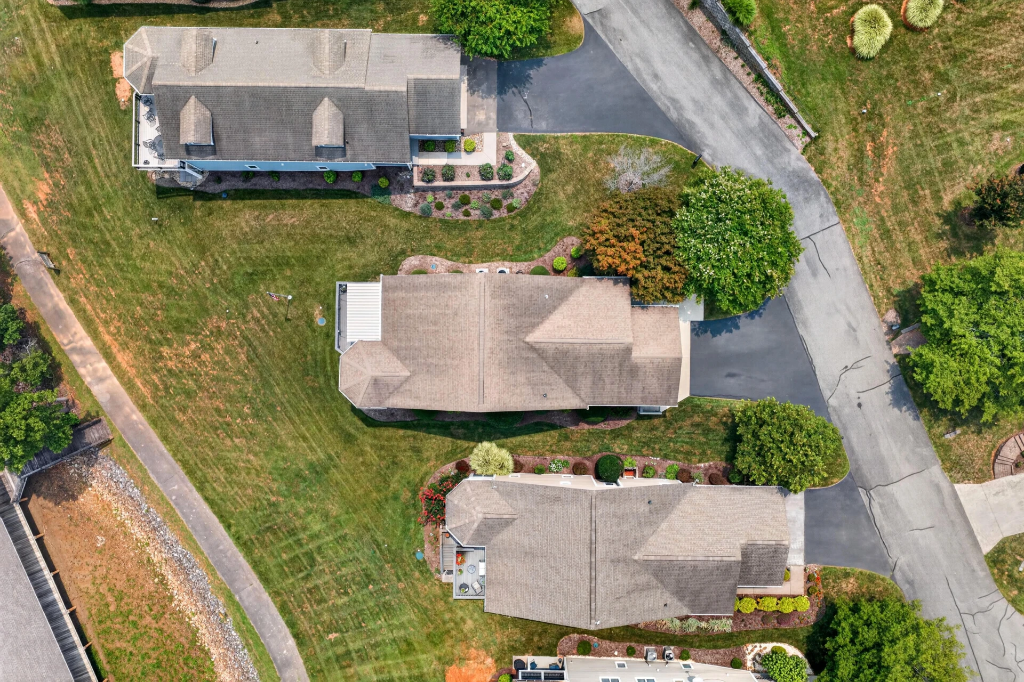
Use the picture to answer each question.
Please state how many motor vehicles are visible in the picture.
0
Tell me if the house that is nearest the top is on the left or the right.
left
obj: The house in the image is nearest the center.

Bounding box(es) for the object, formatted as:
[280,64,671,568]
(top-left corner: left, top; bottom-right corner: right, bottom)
[338,272,683,419]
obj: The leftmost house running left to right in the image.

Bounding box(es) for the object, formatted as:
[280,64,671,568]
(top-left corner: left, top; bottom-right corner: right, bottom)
[122,25,464,171]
